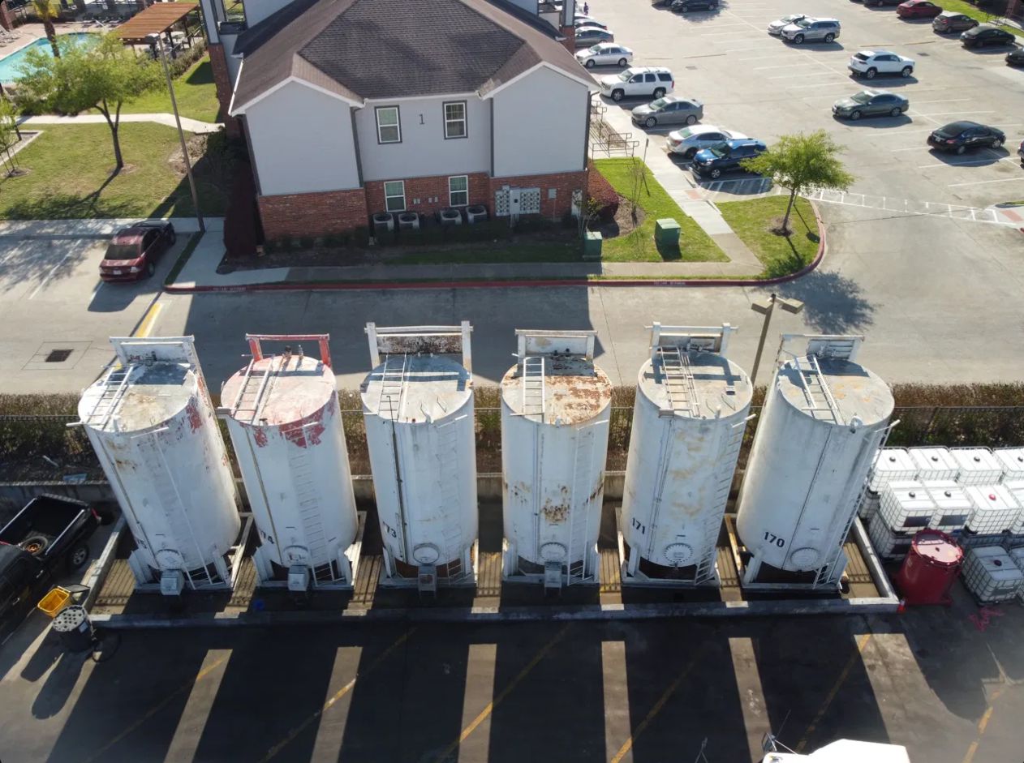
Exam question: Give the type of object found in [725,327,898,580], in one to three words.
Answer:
storage tank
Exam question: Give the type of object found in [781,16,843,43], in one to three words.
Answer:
car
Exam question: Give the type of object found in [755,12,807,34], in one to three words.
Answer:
car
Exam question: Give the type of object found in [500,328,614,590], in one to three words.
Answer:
storage tank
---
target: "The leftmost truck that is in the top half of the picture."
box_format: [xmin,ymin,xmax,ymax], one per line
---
[100,212,182,282]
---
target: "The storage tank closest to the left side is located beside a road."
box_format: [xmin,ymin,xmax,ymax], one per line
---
[54,332,251,597]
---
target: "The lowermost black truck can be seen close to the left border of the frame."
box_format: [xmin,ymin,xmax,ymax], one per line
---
[0,491,101,651]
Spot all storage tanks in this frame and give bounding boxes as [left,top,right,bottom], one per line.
[895,533,967,614]
[54,332,251,597]
[203,332,368,595]
[500,328,614,590]
[611,320,754,582]
[725,327,898,580]
[359,321,482,593]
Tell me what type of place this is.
industrial area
